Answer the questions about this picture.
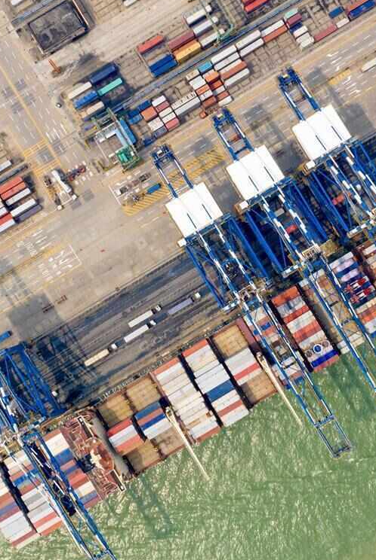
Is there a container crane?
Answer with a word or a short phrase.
Yes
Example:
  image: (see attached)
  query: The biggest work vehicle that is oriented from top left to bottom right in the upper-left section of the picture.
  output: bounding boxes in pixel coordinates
[46,52,63,74]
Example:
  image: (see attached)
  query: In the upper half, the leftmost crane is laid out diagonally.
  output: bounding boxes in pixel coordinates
[98,103,149,166]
